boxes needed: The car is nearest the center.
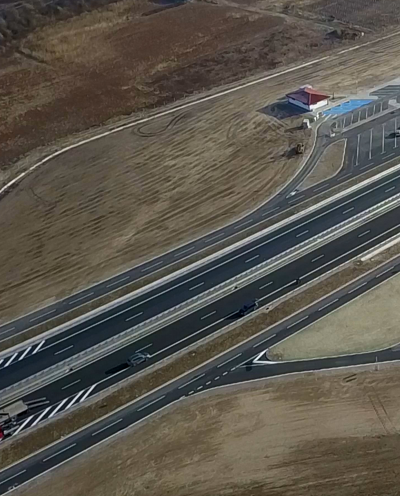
[236,301,257,315]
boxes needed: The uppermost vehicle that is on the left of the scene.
[125,352,149,368]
